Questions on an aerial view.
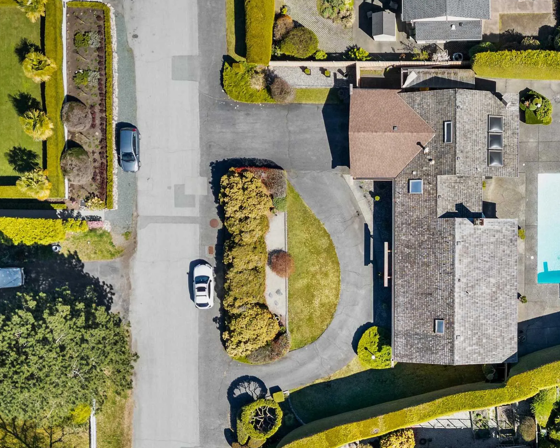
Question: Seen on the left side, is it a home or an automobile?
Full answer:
There is an automobile on the left side.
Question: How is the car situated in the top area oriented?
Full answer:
The car situated in the top area is laid out from top to bottom.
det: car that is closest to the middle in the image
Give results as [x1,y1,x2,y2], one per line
[190,262,215,310]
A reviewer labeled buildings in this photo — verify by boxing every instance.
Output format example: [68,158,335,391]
[348,83,519,366]
[373,11,396,41]
[401,0,491,42]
